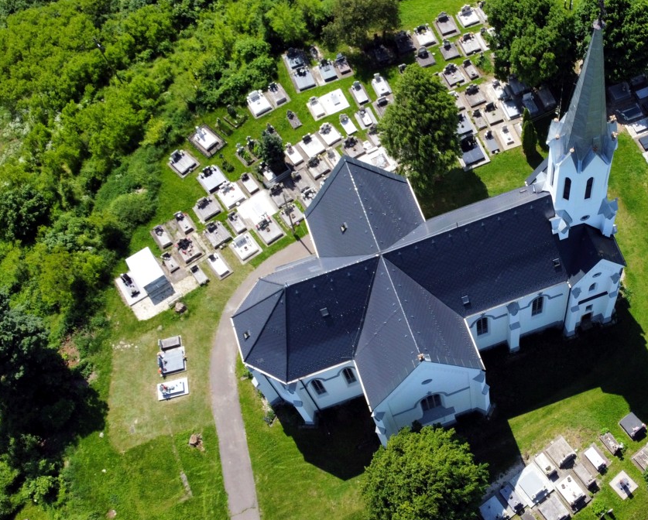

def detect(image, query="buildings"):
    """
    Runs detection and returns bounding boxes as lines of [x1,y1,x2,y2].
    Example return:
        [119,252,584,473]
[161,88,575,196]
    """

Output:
[125,247,172,297]
[231,0,630,456]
